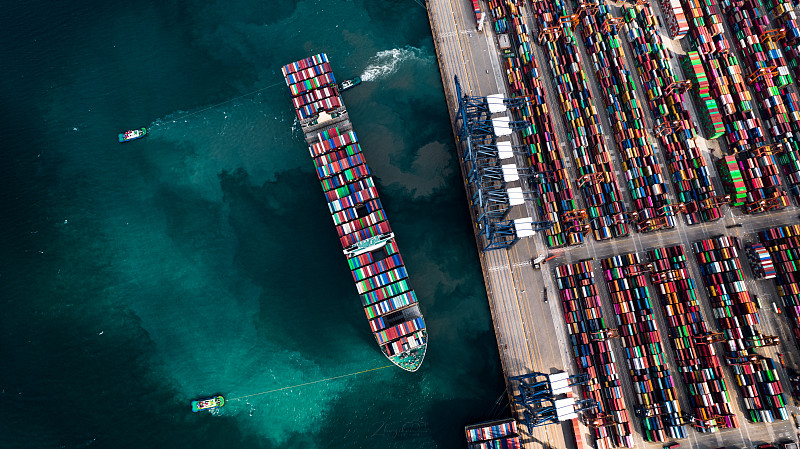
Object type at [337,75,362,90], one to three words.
boat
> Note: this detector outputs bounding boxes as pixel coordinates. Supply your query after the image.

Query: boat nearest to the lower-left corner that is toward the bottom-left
[191,395,223,412]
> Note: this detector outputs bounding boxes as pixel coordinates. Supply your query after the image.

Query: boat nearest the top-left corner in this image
[116,126,146,141]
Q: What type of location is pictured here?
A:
port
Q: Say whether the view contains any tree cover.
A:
No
